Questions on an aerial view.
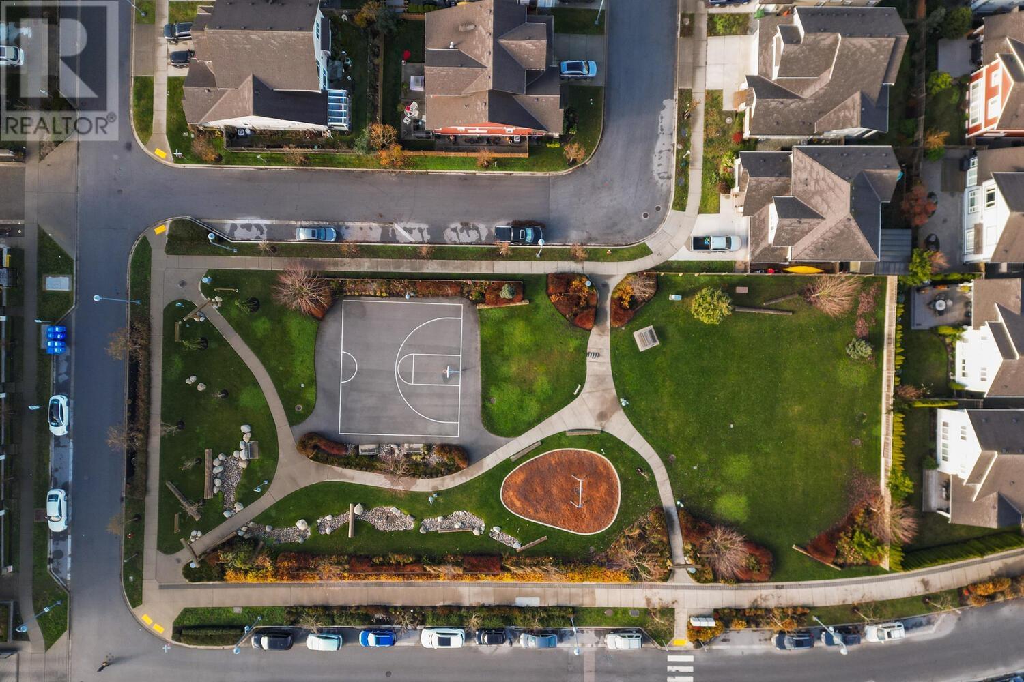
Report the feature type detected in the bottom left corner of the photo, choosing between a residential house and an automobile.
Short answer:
automobile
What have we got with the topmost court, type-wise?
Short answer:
basketball court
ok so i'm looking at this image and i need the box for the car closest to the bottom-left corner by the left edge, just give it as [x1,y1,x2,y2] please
[41,490,66,533]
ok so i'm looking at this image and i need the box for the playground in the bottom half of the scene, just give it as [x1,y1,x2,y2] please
[502,449,620,534]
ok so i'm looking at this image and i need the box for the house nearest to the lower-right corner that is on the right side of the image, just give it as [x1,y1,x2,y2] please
[936,408,1024,533]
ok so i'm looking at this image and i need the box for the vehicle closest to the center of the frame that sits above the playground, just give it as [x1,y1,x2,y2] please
[494,222,543,244]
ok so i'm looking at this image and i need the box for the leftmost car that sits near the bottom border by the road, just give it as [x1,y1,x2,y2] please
[249,632,291,655]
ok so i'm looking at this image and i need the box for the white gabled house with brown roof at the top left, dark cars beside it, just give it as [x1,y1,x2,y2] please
[179,0,333,128]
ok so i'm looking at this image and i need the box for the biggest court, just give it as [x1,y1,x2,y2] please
[291,297,516,470]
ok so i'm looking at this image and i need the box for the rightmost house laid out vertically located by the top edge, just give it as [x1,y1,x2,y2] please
[965,5,1024,140]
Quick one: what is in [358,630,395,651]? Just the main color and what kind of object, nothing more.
blue car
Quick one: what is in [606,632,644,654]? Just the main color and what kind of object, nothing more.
white car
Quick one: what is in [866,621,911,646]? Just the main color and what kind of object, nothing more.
white car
